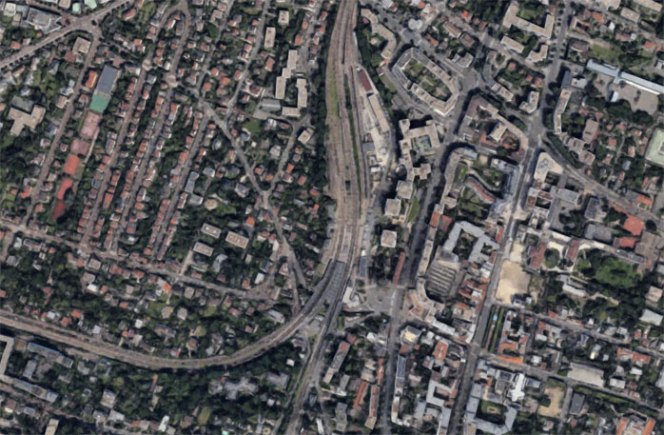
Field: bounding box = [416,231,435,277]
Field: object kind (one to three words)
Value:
building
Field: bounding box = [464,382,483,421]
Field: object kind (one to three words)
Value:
building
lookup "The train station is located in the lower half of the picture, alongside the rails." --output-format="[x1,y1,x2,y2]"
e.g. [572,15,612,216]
[303,222,364,321]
